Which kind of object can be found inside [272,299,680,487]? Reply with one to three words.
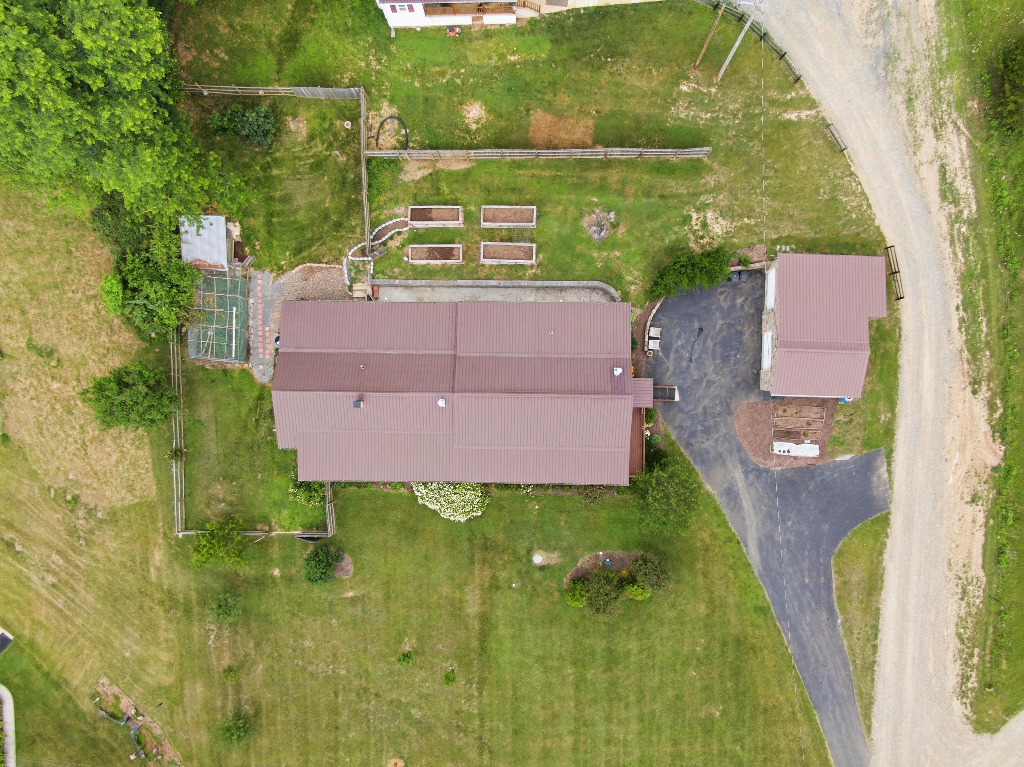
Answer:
house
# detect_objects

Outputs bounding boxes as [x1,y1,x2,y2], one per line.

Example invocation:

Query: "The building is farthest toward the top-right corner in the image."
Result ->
[761,253,886,399]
